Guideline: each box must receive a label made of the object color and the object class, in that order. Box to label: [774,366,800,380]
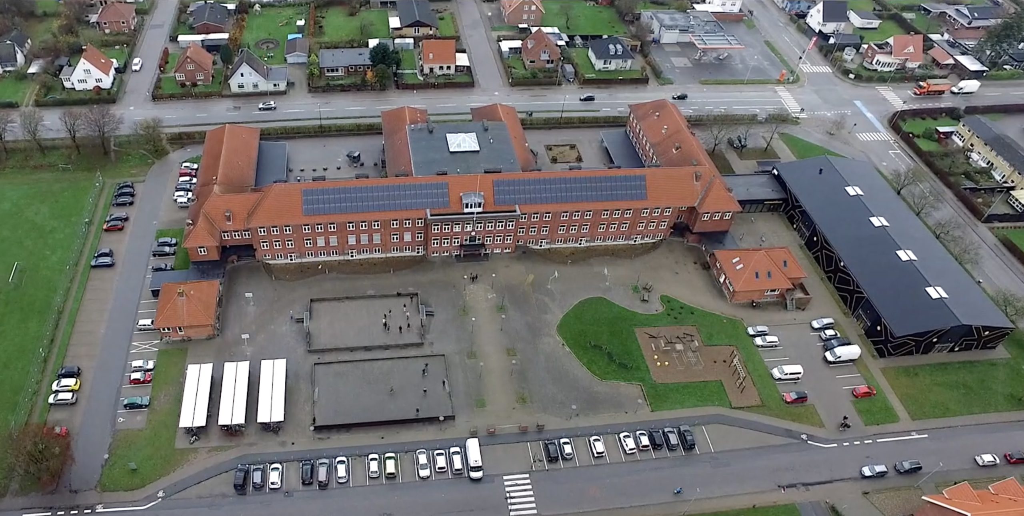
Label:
white vehicle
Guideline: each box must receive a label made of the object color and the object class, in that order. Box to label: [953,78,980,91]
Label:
white vehicle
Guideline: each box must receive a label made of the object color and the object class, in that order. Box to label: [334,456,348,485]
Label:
white car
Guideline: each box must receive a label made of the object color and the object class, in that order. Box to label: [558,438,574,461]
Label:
white car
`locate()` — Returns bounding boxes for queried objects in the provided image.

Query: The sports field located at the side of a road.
[0,171,98,492]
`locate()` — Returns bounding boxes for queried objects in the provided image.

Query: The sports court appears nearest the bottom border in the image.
[313,353,456,431]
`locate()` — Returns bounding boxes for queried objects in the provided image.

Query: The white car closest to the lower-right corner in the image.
[973,452,999,468]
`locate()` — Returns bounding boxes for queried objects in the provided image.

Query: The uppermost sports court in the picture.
[299,290,430,352]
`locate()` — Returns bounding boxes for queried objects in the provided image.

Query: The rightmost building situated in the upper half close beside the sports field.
[183,99,743,266]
